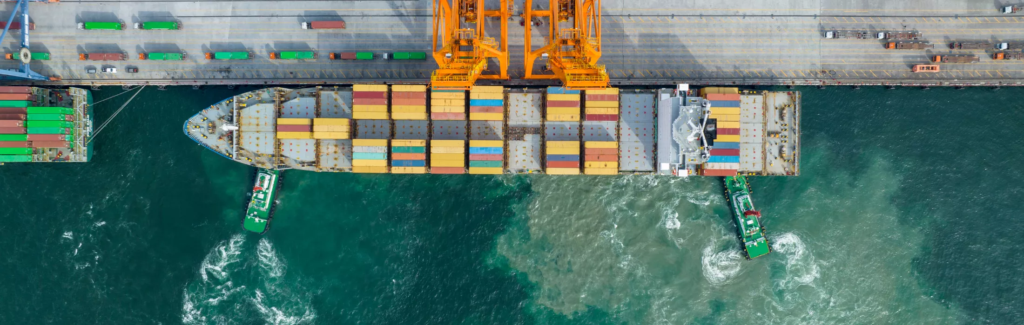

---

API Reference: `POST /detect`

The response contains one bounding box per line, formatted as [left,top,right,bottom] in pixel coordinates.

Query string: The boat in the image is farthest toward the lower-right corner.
[724,175,770,260]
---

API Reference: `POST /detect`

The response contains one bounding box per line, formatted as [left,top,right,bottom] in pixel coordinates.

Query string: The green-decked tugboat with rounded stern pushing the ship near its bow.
[244,168,282,235]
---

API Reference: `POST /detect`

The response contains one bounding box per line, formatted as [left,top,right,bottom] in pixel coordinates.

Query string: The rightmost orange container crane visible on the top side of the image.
[517,0,609,93]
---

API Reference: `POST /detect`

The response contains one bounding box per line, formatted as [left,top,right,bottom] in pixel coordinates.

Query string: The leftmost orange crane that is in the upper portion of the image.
[428,0,516,93]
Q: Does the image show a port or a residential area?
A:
port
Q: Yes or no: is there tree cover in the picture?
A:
No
